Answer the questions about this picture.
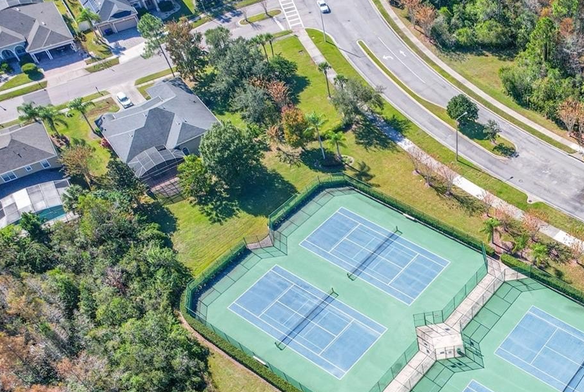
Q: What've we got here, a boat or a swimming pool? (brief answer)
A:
swimming pool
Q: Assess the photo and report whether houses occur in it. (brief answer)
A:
Yes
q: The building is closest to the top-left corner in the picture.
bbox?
[0,0,77,64]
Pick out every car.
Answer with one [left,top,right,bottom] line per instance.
[115,90,133,108]
[317,1,329,13]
